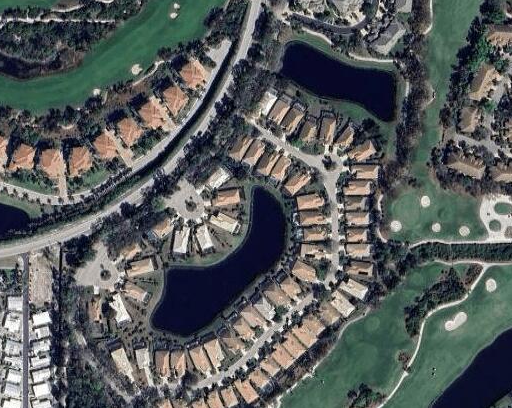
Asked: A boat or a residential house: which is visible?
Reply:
residential house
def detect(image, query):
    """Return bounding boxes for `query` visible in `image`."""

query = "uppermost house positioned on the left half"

[179,60,208,88]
